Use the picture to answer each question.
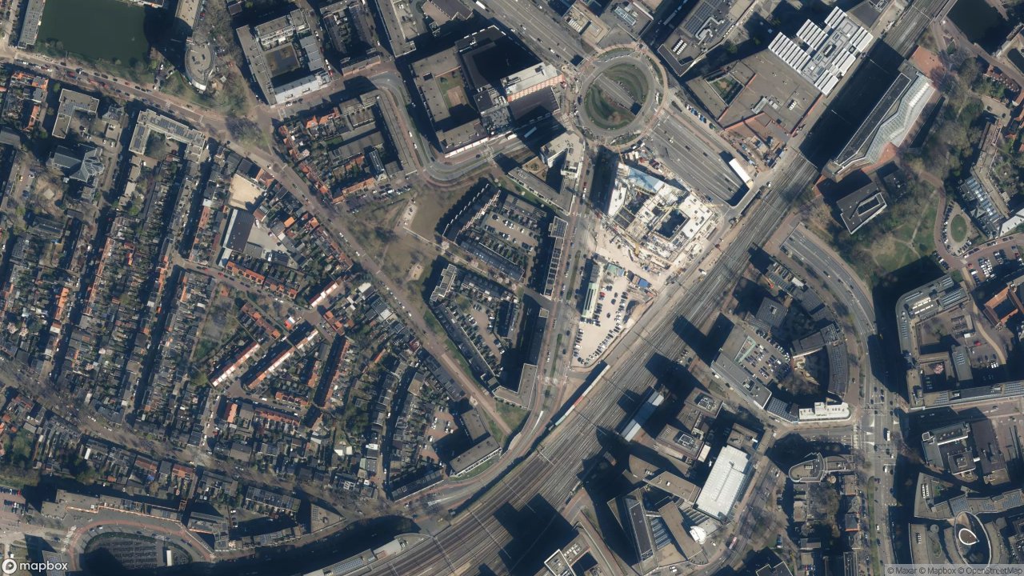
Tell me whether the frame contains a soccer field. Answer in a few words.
No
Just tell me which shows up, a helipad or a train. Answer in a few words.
train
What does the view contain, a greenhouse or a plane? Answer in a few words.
greenhouse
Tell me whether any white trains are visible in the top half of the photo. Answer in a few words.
No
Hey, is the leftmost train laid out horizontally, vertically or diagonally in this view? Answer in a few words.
diagonally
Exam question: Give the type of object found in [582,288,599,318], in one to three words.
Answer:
shed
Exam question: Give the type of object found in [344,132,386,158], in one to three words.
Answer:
building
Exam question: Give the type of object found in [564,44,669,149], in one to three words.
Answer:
roundabout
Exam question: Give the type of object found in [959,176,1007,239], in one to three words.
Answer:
greenhouse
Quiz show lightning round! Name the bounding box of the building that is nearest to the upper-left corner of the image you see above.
[18,0,46,50]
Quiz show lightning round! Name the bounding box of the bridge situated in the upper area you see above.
[704,167,816,284]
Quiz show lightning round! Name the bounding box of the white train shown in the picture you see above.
[545,366,610,431]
